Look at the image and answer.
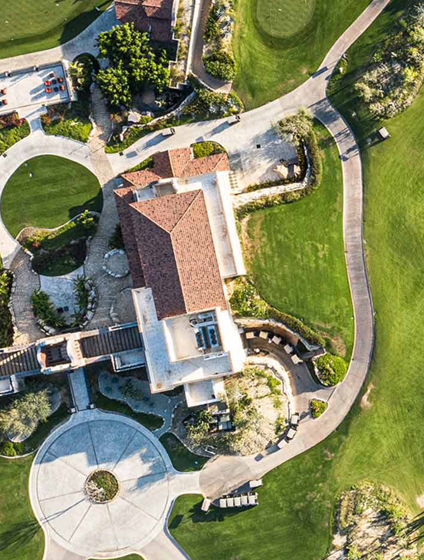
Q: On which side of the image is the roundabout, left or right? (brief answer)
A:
left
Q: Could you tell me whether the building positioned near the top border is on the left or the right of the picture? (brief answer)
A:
left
